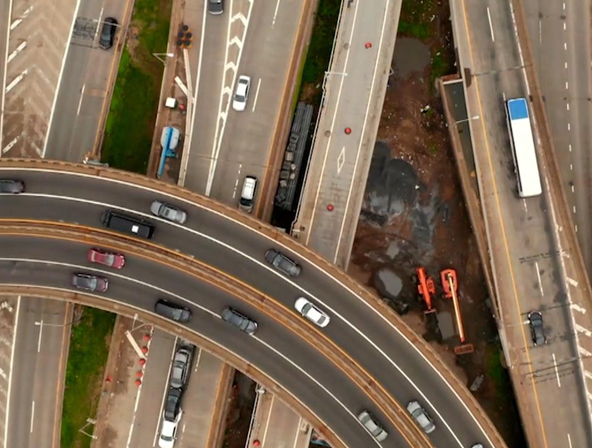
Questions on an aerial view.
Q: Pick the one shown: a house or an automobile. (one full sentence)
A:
Of the two, only an automobile appears.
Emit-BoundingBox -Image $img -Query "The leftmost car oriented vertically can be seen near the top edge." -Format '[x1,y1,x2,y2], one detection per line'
[99,16,118,50]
